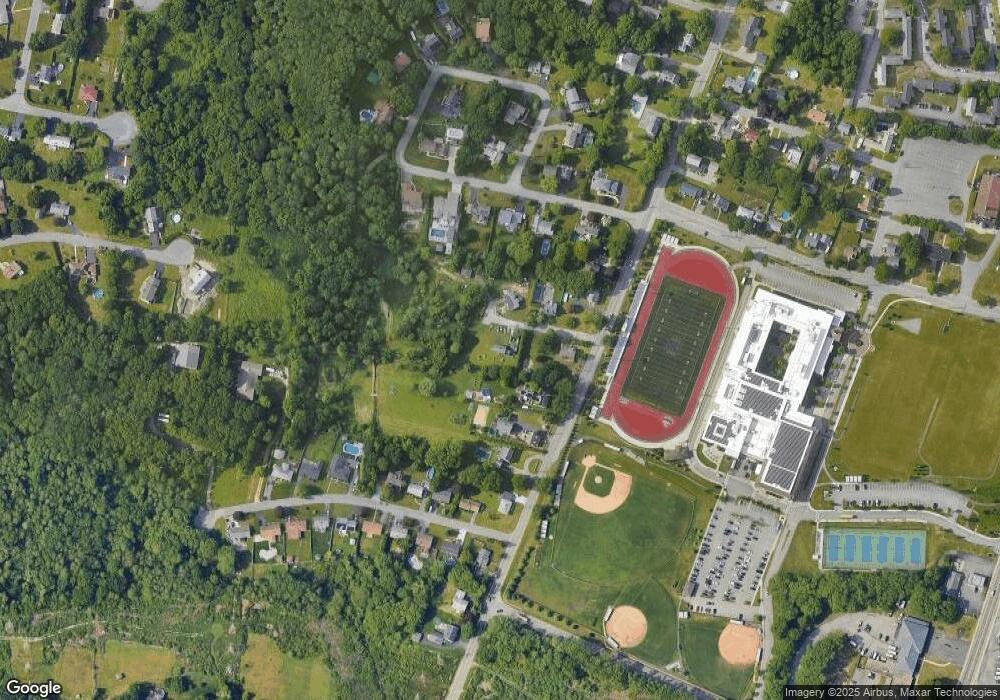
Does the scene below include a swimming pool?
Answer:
Yes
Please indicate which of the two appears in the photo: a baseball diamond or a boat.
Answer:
baseball diamond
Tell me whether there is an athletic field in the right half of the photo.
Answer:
Yes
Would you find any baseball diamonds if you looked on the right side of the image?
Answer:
Yes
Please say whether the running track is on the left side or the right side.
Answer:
right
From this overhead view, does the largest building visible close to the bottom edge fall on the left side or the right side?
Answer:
right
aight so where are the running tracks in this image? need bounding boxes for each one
[603,242,735,442]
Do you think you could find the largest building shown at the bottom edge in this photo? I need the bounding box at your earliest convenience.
[893,614,931,676]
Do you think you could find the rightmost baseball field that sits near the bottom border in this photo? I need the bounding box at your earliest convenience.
[681,619,760,700]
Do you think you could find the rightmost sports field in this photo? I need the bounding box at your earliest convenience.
[822,300,1000,521]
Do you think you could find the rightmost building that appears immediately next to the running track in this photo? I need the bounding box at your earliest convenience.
[702,288,846,492]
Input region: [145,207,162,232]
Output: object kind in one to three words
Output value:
house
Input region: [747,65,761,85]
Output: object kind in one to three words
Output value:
swimming pool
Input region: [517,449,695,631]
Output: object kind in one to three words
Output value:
baseball field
